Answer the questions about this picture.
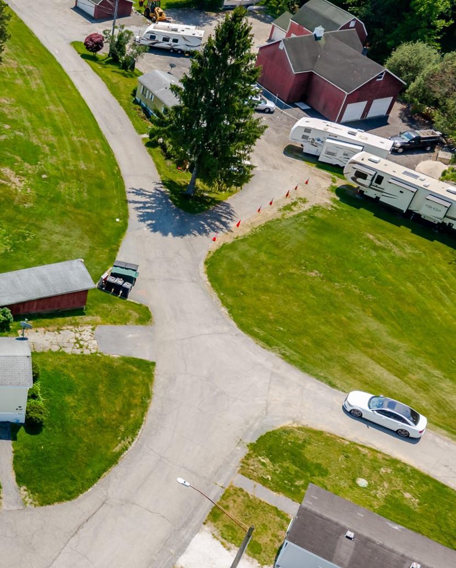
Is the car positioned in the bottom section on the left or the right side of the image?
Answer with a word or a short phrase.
right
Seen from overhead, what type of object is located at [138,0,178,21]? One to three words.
work vehicle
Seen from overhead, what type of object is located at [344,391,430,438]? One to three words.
car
